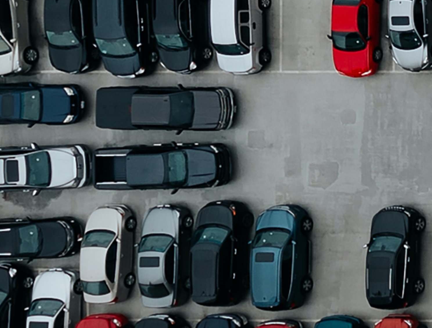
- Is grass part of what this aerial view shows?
No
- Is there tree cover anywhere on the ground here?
No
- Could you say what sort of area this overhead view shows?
parking lot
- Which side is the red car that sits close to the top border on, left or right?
right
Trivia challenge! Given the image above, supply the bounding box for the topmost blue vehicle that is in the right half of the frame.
[247,203,311,312]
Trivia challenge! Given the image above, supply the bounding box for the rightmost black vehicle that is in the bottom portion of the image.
[363,205,425,310]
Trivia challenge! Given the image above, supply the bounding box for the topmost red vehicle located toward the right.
[325,0,383,78]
